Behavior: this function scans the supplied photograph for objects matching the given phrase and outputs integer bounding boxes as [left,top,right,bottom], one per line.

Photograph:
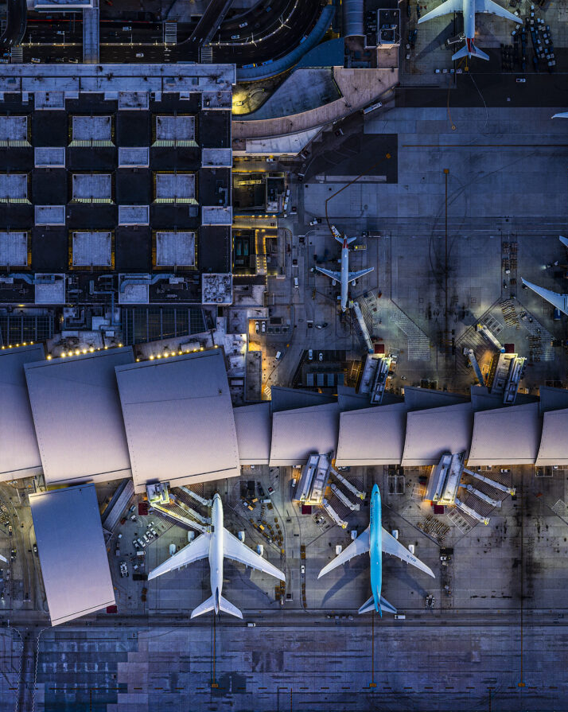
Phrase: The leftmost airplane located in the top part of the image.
[314,235,373,312]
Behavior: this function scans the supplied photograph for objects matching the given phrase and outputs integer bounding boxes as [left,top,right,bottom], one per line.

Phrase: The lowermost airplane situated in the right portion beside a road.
[317,483,434,617]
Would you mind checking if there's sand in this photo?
No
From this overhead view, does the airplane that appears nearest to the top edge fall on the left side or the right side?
right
